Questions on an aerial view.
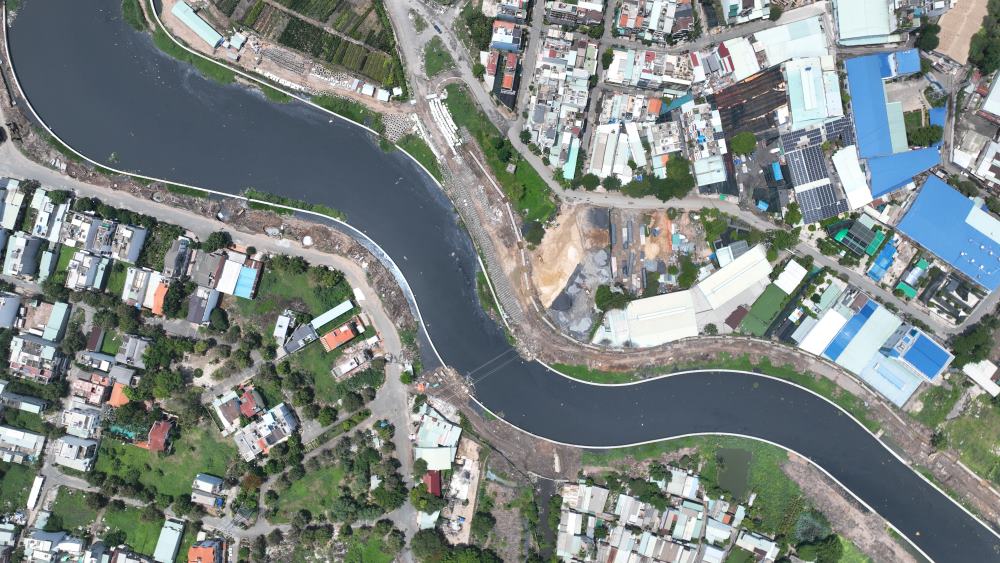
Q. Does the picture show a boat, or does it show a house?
house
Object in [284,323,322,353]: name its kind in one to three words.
house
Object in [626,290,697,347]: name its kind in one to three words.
building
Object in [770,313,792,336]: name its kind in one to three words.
shed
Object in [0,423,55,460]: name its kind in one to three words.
house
